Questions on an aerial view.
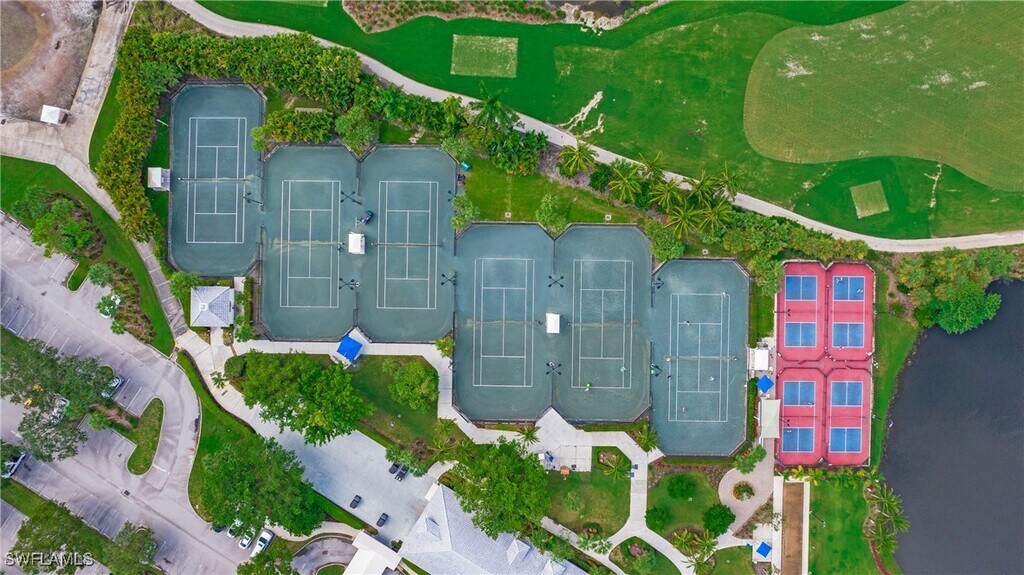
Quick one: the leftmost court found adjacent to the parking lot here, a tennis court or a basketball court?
tennis court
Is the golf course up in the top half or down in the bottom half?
top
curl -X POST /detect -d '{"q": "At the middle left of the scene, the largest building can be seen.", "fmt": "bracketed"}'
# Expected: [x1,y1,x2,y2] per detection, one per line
[190,287,234,327]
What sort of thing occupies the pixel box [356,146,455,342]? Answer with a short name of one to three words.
tennis court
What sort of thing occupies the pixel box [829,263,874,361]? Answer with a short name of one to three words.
sports court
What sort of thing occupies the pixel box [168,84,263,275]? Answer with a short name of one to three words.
tennis court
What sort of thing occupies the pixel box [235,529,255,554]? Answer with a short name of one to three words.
car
